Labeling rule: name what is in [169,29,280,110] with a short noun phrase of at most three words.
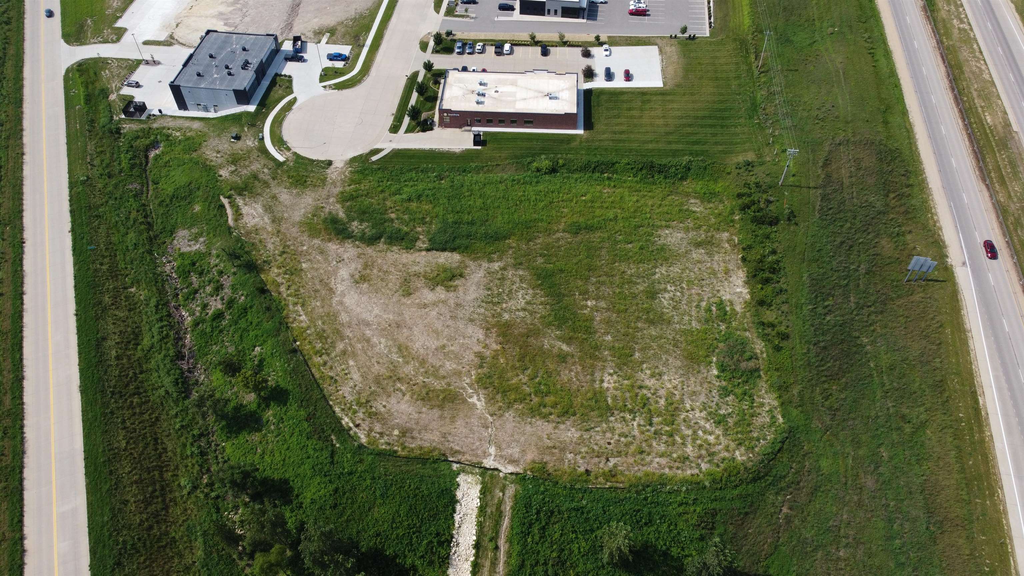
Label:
building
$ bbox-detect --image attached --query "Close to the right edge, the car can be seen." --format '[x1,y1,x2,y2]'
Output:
[982,240,997,258]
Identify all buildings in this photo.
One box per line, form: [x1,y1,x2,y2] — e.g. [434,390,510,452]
[438,68,578,131]
[169,29,280,110]
[519,0,587,19]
